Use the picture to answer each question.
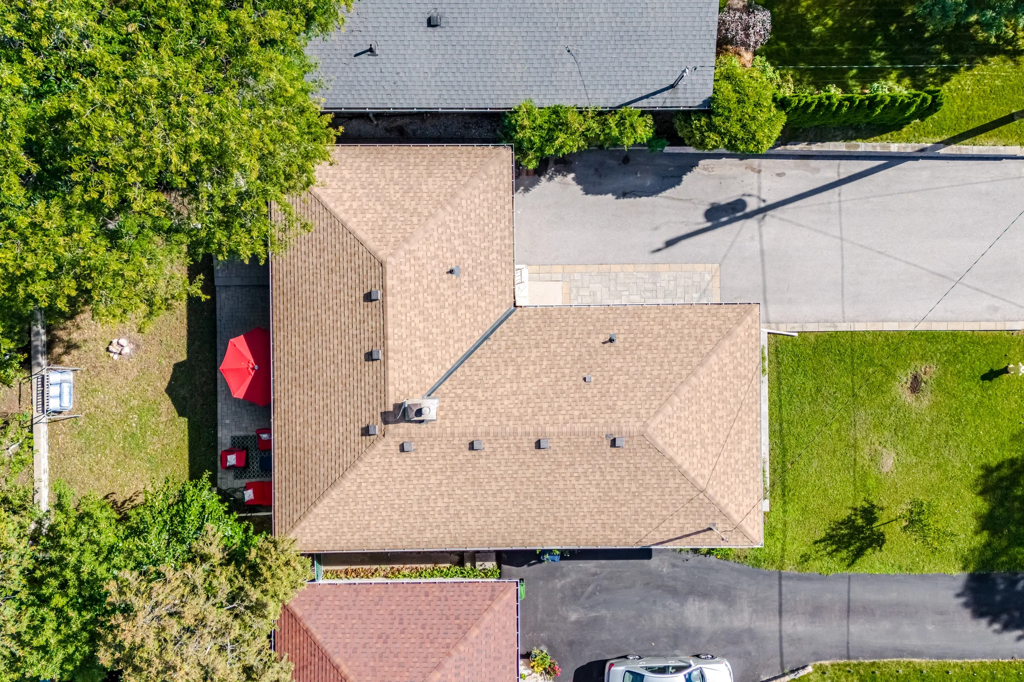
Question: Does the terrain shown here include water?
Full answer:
No, there's no water in this view.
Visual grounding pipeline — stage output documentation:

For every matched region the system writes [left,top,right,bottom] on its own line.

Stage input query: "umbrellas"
[219,324,271,408]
